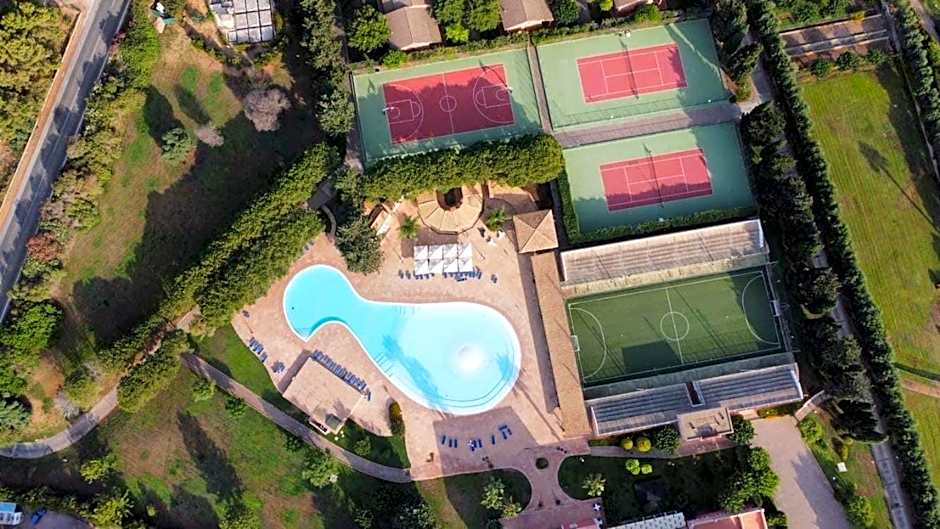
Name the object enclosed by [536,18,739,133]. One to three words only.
tennis court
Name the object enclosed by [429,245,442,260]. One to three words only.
umbrella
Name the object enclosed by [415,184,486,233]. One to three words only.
building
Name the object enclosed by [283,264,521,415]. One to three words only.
swimming pool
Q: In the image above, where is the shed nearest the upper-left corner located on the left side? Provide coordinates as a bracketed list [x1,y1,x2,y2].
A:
[152,2,176,31]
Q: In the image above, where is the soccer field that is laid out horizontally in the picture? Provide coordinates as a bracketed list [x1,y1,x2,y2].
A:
[566,264,791,386]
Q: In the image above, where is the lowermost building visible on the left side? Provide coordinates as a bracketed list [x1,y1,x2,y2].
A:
[284,359,364,433]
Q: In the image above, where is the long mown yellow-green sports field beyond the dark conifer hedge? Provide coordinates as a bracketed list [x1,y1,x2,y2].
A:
[798,64,940,382]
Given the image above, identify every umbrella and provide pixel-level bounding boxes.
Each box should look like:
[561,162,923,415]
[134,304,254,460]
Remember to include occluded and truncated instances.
[429,260,442,274]
[442,245,457,260]
[458,259,472,274]
[414,246,428,260]
[429,245,442,260]
[458,245,472,259]
[442,259,457,274]
[414,260,428,274]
